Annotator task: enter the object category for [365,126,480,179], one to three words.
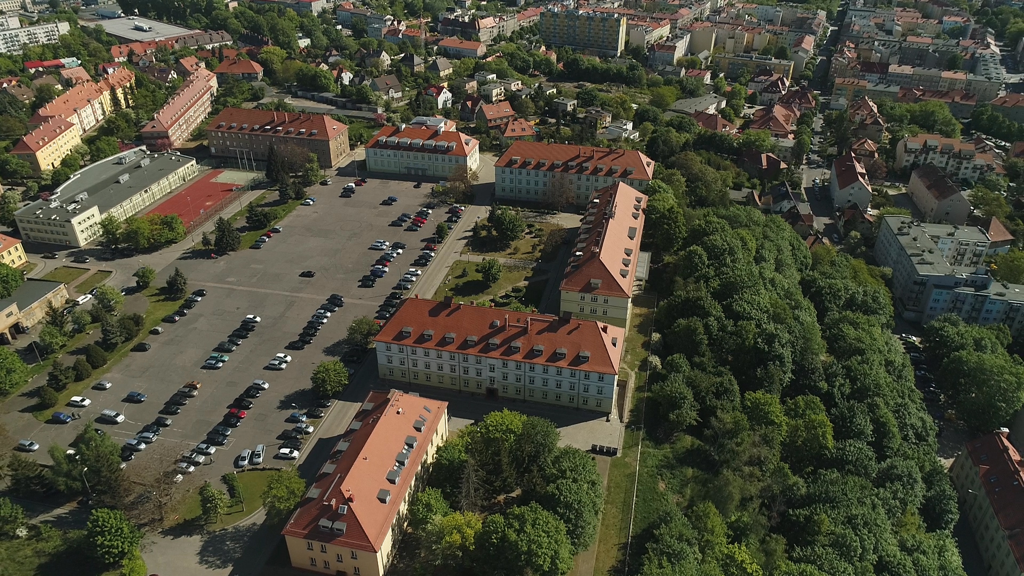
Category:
building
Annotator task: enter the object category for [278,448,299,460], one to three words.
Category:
vehicle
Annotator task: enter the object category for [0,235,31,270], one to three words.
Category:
house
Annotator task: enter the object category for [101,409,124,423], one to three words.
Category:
vehicle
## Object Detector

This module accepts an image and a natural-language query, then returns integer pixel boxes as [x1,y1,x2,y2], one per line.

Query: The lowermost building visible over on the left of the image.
[281,389,450,576]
